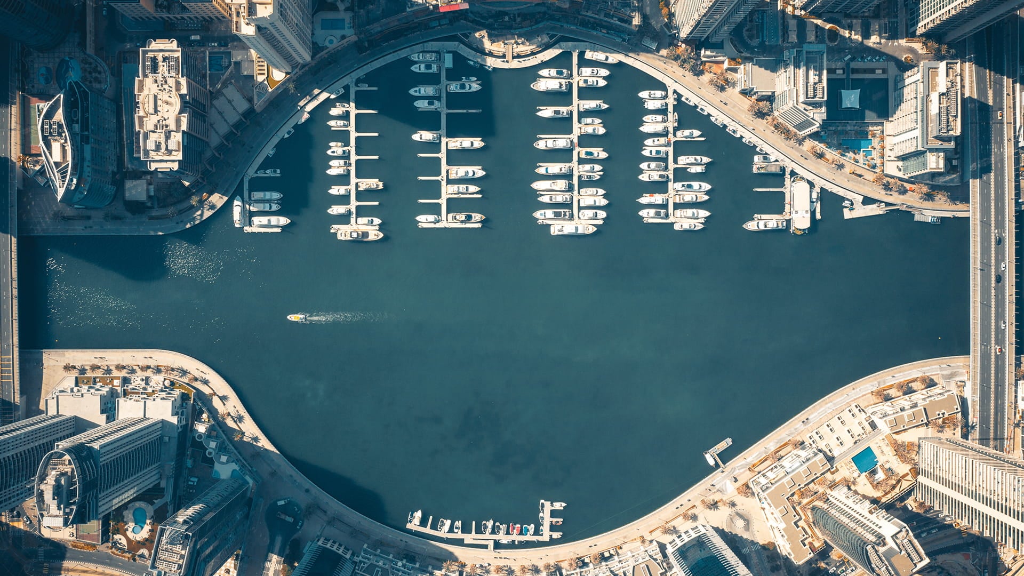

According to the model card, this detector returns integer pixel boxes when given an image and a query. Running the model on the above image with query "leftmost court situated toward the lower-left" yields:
[75,518,104,544]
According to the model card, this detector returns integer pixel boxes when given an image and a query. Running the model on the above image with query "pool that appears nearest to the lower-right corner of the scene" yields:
[850,444,880,476]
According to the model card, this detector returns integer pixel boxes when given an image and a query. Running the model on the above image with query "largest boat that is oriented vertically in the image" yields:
[789,177,810,235]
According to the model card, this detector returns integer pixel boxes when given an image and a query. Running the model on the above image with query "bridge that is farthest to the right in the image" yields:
[968,19,1018,576]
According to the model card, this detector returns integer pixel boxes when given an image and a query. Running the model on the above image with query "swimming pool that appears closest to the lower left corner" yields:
[132,507,147,534]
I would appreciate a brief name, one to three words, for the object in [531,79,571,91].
boat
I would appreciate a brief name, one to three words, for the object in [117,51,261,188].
building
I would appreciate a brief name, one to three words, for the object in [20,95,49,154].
tennis court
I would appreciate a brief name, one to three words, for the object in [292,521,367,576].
building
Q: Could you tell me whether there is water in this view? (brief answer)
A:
Yes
